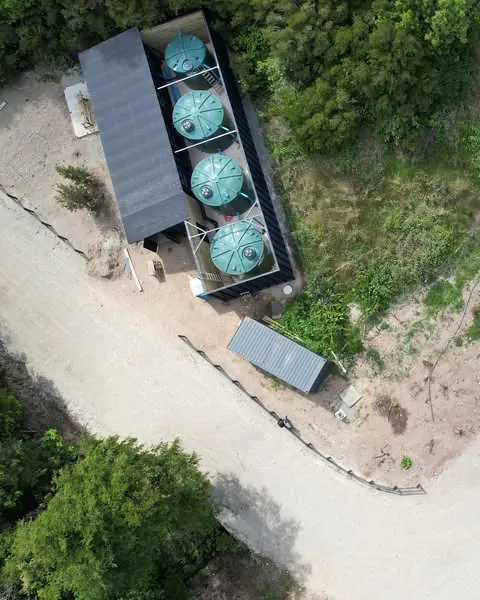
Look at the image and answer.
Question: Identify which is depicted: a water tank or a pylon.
water tank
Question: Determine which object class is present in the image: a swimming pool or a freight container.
freight container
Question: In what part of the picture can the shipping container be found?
center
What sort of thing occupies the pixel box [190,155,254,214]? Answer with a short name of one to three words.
water tank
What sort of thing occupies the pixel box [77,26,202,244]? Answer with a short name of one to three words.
shed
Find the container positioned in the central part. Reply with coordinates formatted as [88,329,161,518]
[228,316,335,394]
